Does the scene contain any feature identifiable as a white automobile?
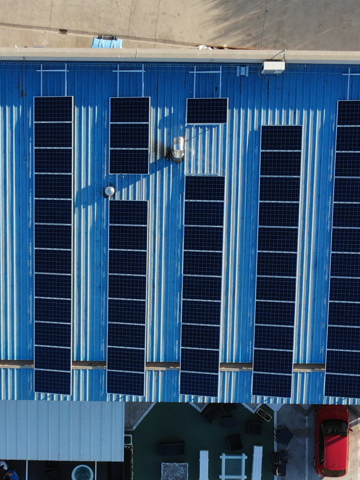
No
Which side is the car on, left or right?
right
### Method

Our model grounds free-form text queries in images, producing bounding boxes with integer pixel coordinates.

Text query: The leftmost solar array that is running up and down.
[33,62,73,393]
